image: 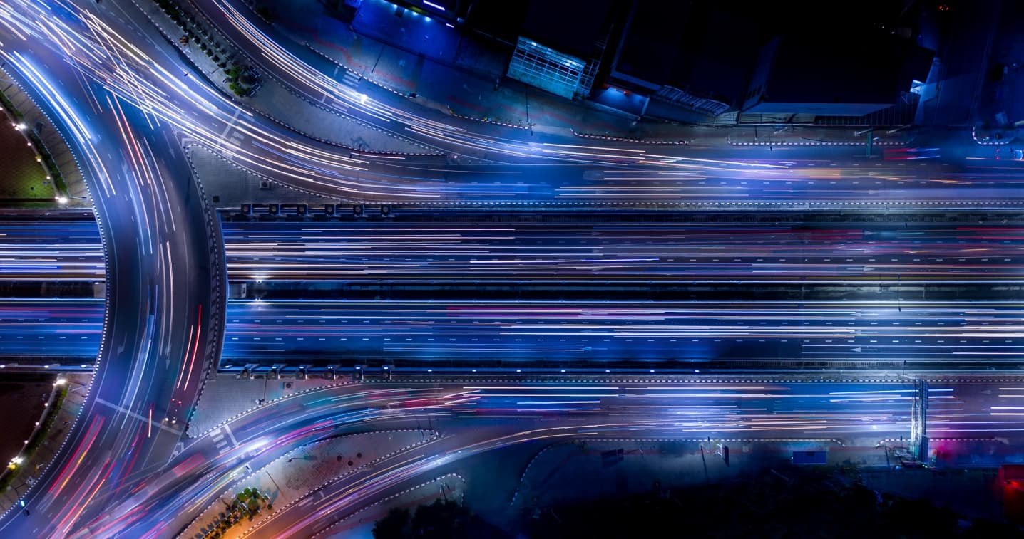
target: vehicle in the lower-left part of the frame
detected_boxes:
[164,399,180,424]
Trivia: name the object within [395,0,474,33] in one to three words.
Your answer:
building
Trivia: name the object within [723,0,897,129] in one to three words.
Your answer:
building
